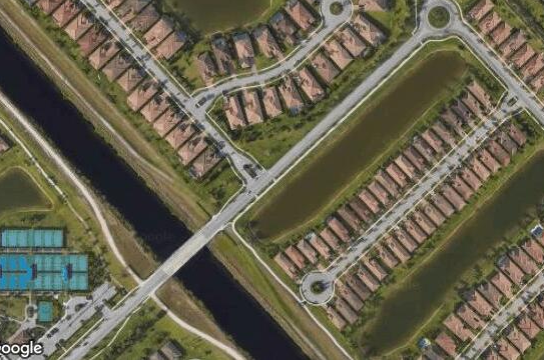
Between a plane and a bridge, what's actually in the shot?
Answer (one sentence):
There is a bridge in the scene.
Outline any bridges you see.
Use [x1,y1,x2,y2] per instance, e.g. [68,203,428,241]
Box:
[156,221,216,278]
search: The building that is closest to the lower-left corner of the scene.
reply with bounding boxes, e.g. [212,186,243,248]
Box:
[4,321,34,351]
